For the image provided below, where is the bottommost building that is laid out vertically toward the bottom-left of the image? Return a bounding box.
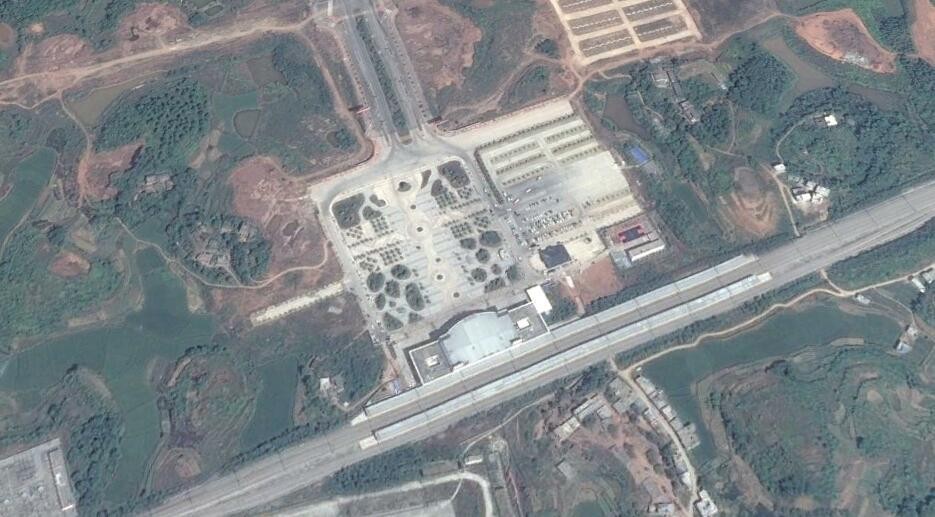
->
[50,449,75,510]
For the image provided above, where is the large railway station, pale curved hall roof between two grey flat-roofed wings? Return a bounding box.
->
[409,301,549,385]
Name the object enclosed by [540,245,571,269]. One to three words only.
building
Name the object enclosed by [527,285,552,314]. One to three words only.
building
